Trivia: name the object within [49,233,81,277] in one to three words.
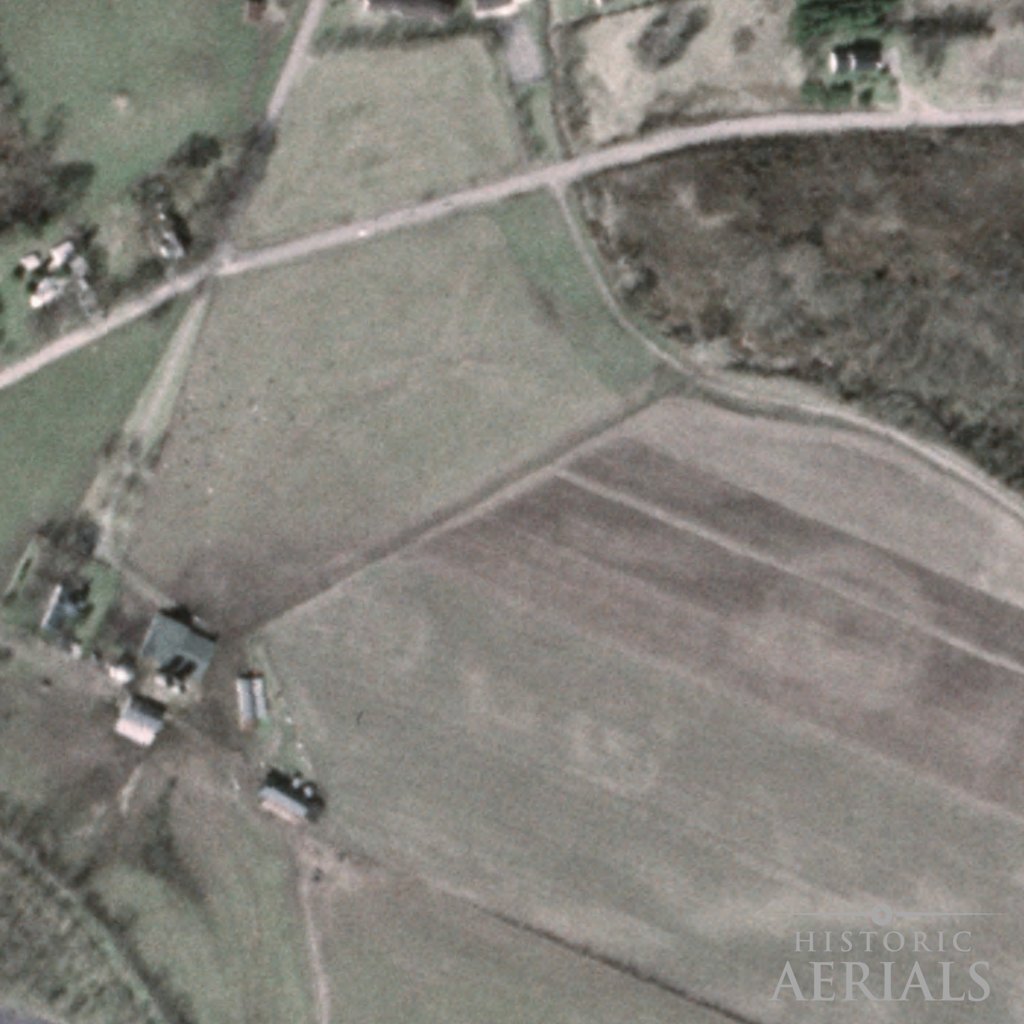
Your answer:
house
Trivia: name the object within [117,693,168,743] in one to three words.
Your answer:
barn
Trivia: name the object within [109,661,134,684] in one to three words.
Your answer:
building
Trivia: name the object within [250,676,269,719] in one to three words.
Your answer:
shed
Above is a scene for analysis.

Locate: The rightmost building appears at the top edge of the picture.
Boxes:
[828,47,893,76]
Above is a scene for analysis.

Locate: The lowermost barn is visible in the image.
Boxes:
[261,774,317,819]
